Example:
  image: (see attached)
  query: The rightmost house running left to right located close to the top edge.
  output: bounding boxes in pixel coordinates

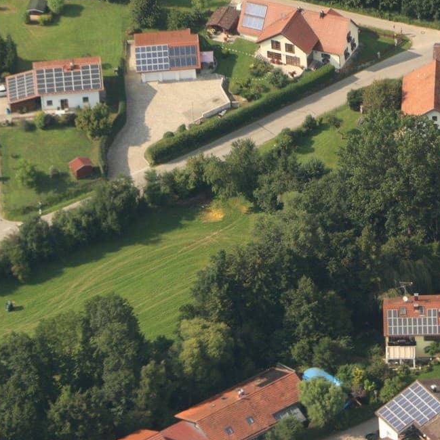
[237,0,360,69]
